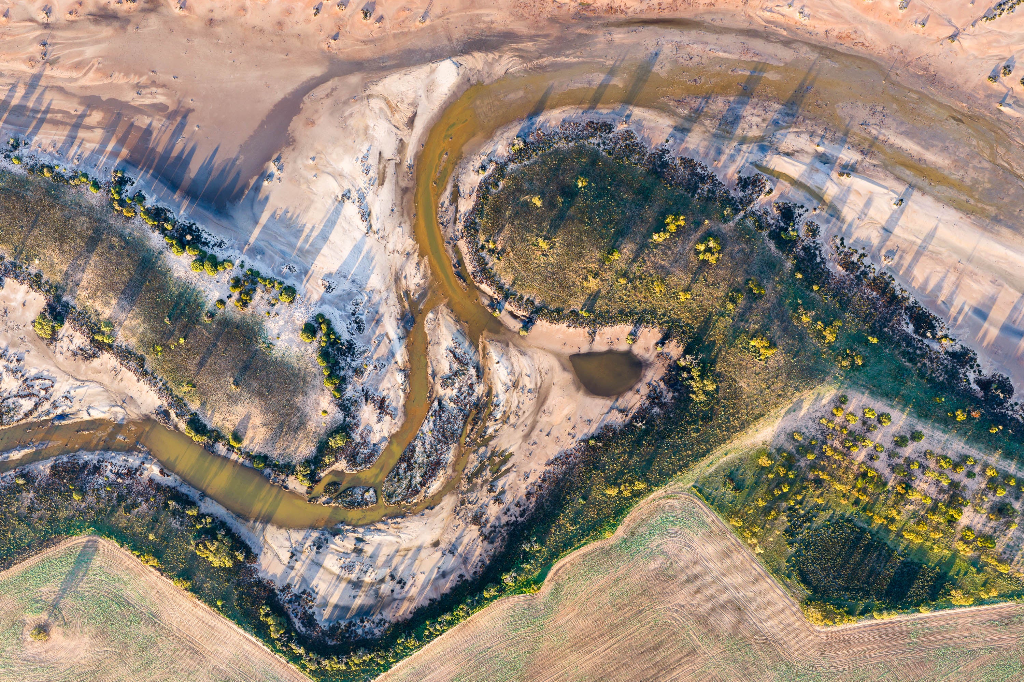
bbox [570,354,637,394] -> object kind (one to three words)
pond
